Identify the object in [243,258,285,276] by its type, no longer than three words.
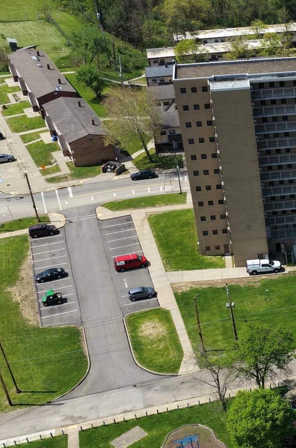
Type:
vehicle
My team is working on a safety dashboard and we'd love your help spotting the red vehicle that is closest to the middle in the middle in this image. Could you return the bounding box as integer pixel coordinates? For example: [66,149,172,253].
[110,252,150,271]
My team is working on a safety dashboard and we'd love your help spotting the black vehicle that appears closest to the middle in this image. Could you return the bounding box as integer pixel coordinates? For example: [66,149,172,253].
[129,168,156,181]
